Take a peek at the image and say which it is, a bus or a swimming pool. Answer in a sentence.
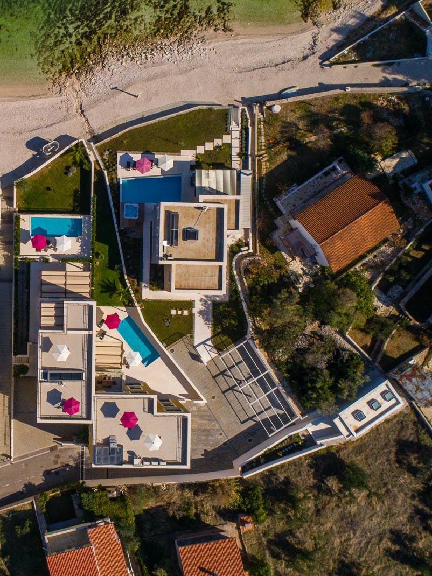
The one in the frame is a swimming pool.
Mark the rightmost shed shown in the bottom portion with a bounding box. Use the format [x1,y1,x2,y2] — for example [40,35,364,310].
[395,366,432,407]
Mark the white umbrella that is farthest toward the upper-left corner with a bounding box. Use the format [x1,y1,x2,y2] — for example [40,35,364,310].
[157,153,173,172]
